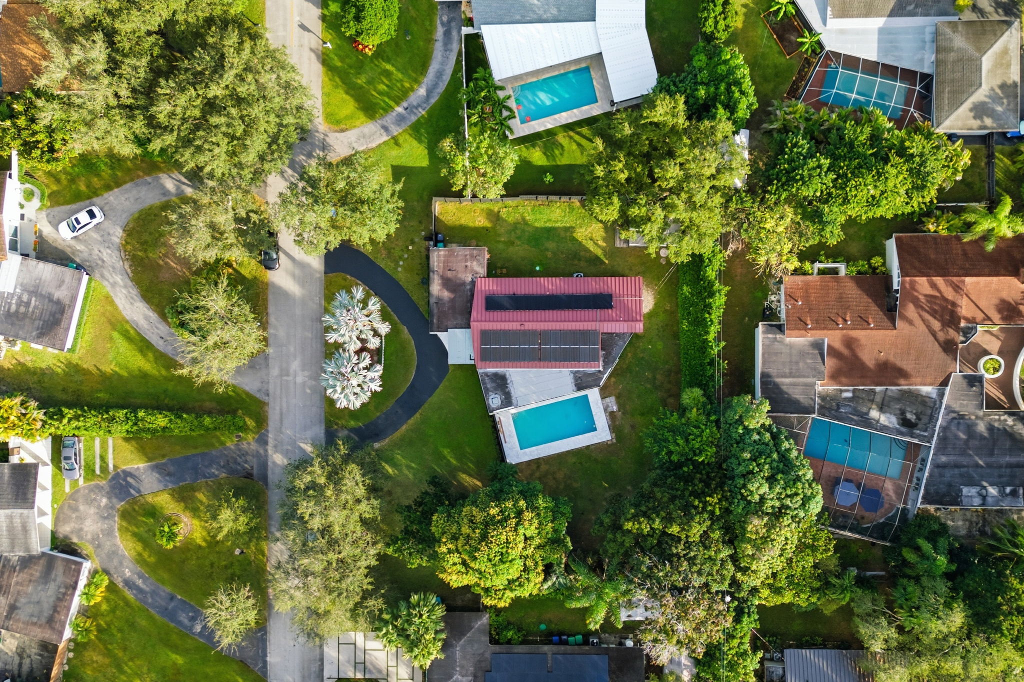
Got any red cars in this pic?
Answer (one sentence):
No, there's no red car here.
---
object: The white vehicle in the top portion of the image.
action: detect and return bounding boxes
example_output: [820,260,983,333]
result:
[58,205,106,240]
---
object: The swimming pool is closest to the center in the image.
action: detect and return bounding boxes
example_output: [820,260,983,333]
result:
[508,391,599,453]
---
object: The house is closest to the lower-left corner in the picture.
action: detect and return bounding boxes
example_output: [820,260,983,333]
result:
[0,549,102,645]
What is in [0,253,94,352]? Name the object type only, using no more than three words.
house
